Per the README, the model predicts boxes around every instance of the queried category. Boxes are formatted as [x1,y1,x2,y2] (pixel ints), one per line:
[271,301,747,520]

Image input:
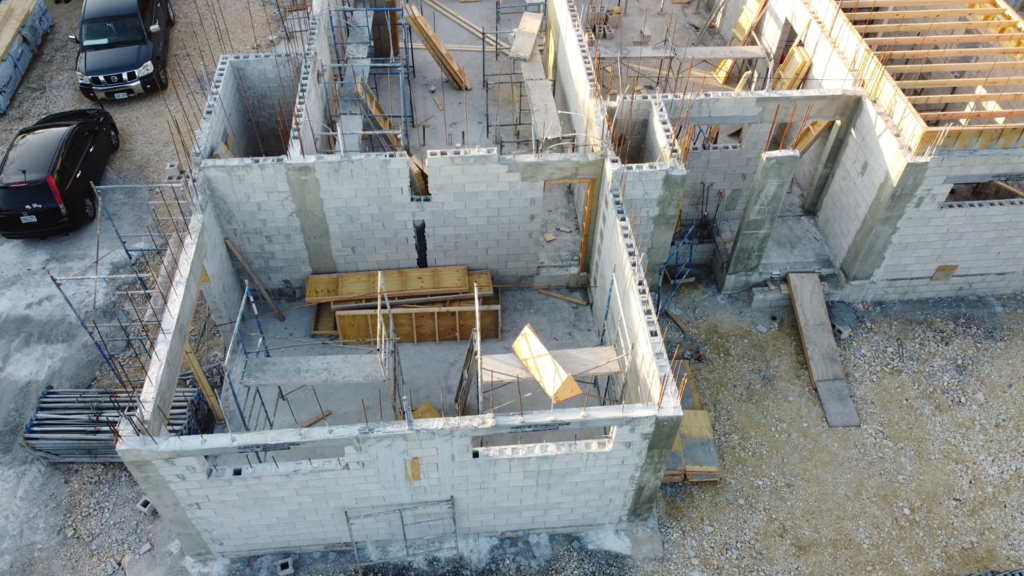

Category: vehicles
[59,0,173,101]
[0,110,119,246]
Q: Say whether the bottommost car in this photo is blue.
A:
No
